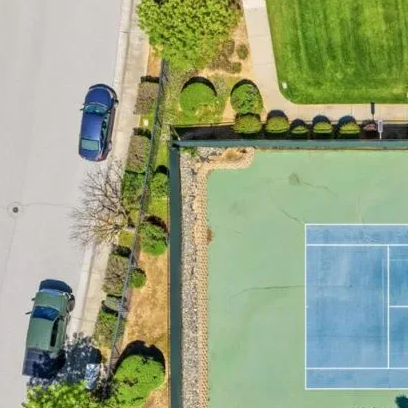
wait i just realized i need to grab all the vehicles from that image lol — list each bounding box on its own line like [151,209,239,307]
[78,87,118,163]
[25,285,75,383]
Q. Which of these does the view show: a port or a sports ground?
sports ground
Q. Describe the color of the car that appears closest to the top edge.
blue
